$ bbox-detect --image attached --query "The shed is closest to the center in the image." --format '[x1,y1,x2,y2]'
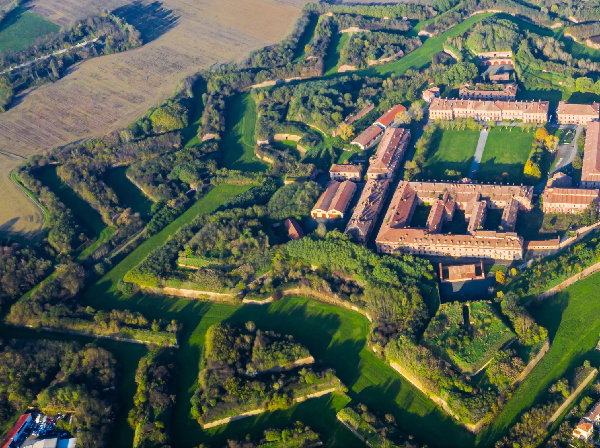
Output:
[283,219,305,243]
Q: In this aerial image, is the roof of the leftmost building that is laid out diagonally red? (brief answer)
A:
Yes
